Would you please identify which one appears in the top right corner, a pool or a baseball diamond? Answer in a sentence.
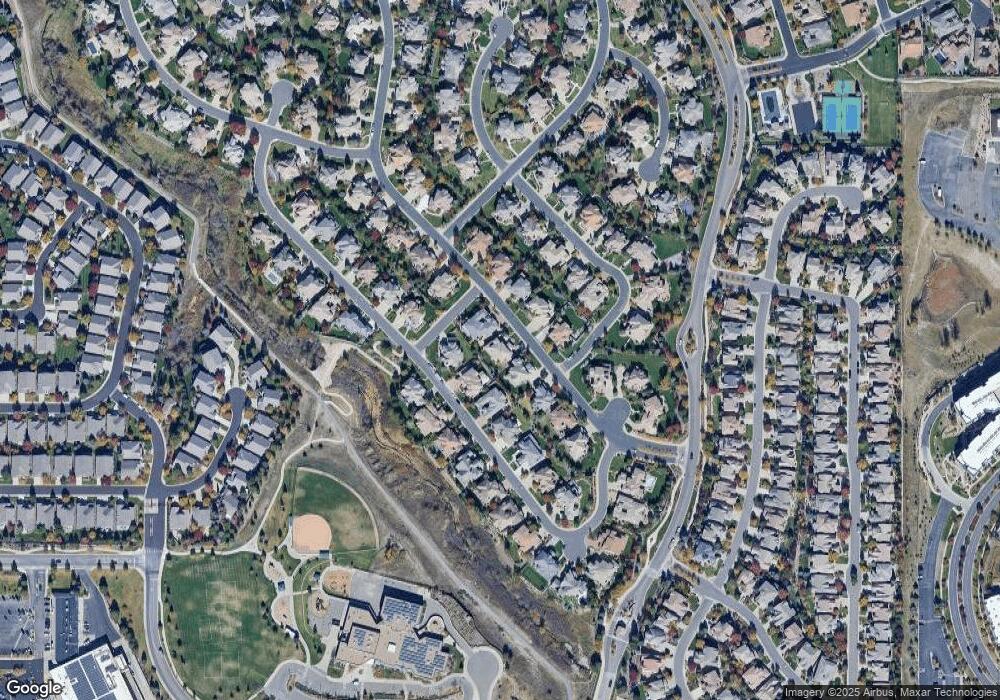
The one visible in the top right corner is a pool.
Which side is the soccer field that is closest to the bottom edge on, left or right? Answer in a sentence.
It is on the left.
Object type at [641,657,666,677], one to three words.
house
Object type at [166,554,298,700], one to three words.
soccer field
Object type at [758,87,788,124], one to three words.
swimming pool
